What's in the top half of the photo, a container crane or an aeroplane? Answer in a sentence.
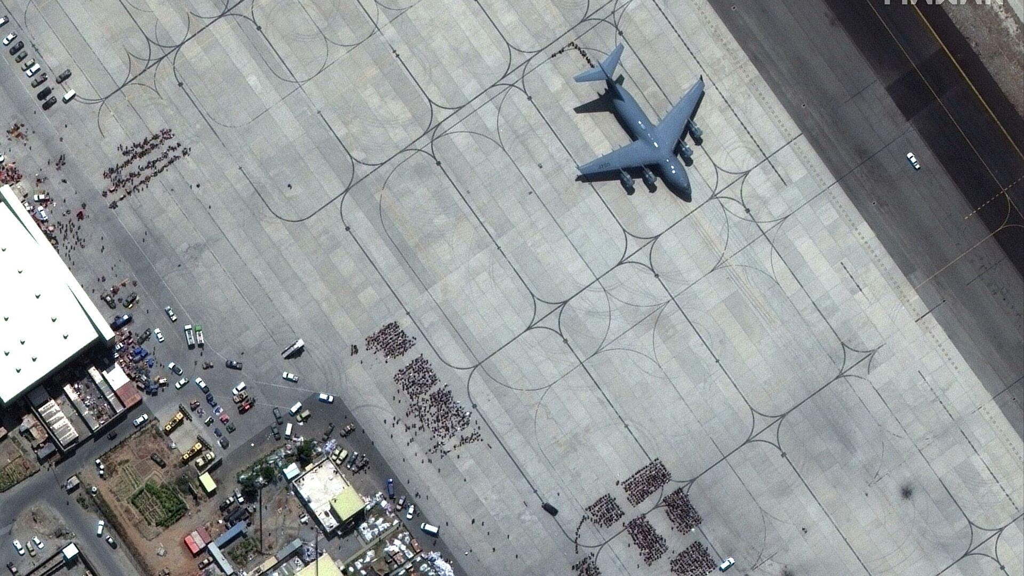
Looking in the top half of the photo, you will find an aeroplane.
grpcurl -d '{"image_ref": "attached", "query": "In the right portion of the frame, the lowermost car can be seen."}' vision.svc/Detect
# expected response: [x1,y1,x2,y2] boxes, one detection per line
[719,558,735,571]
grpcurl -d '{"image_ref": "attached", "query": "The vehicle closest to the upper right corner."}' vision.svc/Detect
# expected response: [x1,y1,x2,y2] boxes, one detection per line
[908,152,920,169]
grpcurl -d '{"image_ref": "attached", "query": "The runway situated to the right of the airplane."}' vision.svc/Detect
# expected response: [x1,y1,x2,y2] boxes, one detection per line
[823,0,1024,281]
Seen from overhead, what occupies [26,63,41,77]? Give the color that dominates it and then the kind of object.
white car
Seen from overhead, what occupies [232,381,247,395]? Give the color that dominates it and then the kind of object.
white car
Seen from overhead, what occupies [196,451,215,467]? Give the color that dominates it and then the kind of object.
white work vehicle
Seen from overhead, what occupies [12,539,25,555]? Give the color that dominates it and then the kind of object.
white vehicle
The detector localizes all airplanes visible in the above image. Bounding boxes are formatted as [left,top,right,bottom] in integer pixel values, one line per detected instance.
[573,42,706,197]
